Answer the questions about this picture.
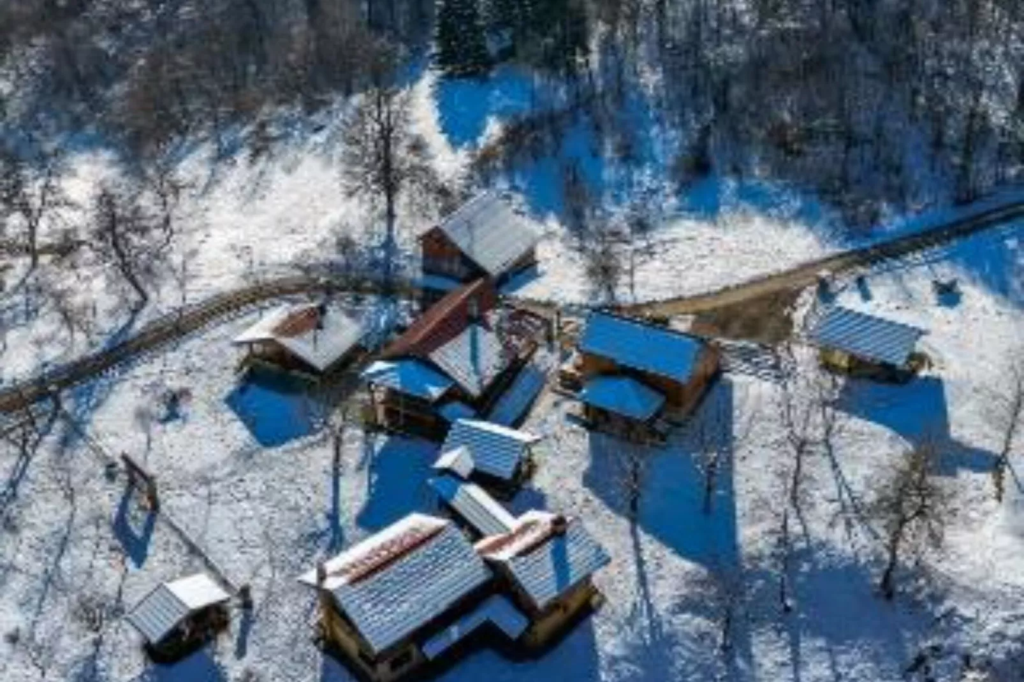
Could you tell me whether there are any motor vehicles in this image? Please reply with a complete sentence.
No, the scene contains no motor vehicle.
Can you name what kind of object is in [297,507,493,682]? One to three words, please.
house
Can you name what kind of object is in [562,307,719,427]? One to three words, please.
house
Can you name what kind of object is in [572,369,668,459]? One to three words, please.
building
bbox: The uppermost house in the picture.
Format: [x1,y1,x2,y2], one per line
[404,192,537,314]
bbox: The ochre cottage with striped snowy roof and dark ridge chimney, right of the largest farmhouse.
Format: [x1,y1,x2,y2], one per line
[474,508,624,661]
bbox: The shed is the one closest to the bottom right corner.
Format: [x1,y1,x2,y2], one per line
[816,304,922,392]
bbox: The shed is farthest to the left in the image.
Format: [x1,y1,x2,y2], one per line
[125,571,230,660]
